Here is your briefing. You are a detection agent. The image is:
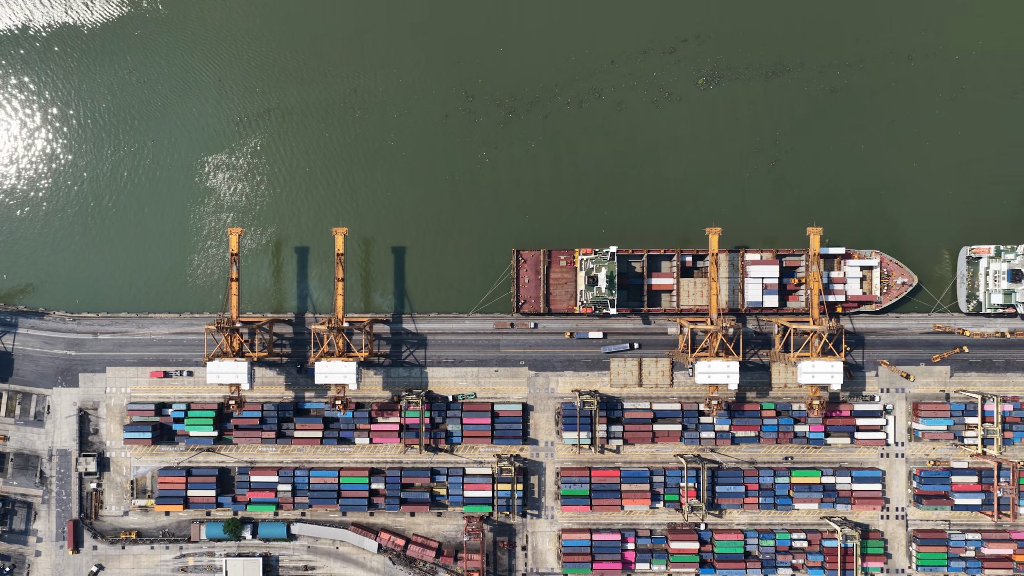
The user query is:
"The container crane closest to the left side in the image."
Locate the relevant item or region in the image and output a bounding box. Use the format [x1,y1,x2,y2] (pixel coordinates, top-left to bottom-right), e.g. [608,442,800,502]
[203,222,293,416]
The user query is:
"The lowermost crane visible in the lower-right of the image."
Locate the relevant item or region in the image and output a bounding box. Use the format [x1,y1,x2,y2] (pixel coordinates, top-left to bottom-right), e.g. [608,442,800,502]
[815,513,860,576]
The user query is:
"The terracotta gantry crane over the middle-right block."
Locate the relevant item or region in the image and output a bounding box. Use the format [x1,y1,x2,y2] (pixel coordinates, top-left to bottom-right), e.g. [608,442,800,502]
[963,450,1016,522]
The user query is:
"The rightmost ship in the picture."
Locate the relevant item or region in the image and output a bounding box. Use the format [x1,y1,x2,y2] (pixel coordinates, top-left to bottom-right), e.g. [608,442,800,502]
[956,244,1024,314]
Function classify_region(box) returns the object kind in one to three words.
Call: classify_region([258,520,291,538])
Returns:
shed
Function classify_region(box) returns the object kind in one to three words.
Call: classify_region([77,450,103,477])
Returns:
building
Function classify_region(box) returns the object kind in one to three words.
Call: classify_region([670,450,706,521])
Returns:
container crane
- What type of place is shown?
port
